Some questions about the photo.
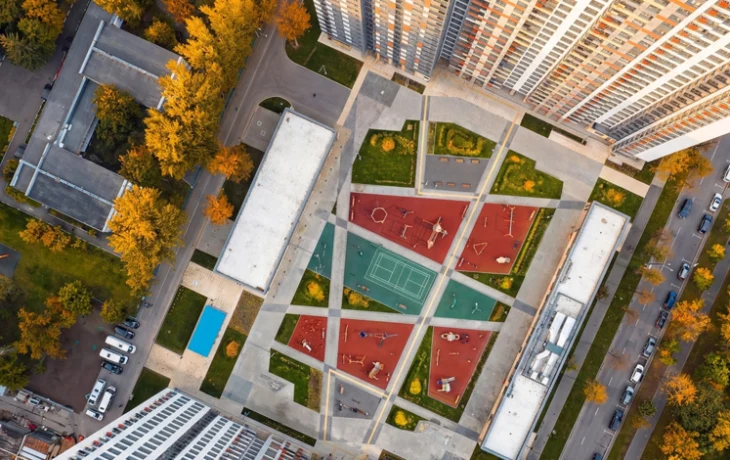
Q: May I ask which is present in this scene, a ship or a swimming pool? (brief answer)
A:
swimming pool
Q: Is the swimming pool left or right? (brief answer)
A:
left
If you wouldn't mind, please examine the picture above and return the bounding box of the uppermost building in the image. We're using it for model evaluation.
[313,0,461,80]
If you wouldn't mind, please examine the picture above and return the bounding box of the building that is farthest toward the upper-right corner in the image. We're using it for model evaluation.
[441,0,730,162]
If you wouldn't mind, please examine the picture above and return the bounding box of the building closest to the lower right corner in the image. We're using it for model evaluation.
[476,200,631,460]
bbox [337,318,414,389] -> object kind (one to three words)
playground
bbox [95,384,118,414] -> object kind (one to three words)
vehicle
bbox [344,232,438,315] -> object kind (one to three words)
sports court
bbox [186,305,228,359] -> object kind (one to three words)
swimming pool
